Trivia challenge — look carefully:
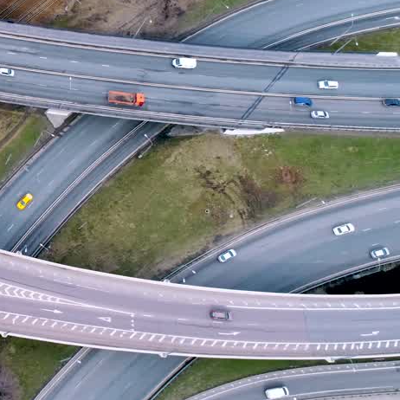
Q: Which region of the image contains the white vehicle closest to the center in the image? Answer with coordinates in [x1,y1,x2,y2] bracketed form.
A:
[215,248,237,263]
